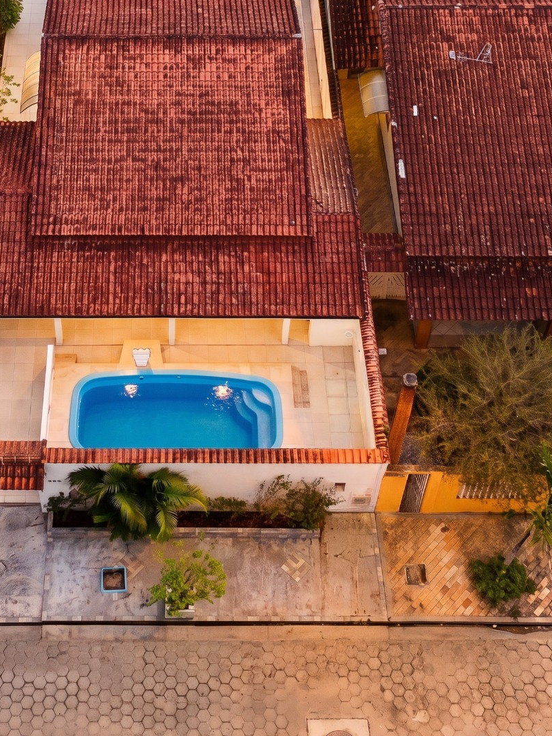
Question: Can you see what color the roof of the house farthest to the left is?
red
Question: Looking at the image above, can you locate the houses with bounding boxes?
[372,0,552,357]
[0,0,366,343]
